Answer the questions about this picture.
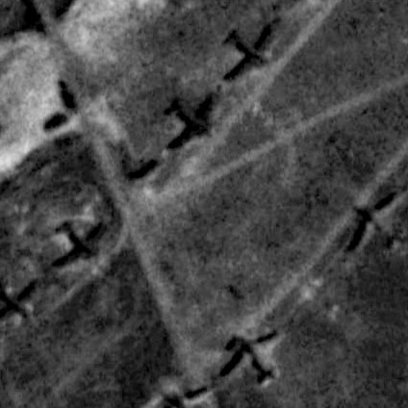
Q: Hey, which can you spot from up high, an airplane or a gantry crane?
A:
airplane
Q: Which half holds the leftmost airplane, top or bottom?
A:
bottom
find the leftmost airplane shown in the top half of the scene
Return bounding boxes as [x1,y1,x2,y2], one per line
[166,94,212,149]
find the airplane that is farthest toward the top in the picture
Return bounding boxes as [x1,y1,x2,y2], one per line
[224,25,274,82]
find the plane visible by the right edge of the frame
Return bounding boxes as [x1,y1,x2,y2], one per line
[353,196,408,252]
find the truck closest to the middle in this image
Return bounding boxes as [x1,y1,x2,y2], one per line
[123,157,156,180]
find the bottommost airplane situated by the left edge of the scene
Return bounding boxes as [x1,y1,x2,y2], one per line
[0,280,40,318]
